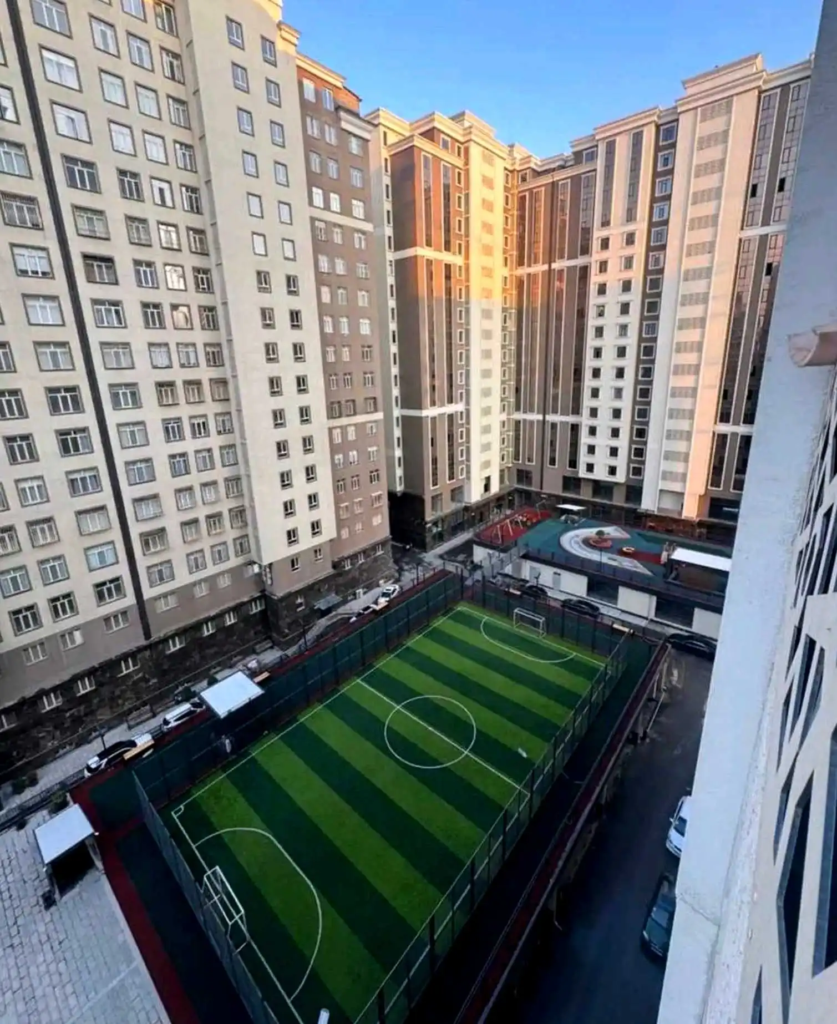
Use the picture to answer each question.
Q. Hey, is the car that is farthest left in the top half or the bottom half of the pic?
bottom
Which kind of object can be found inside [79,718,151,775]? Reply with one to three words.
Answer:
car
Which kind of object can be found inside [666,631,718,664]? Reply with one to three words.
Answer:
car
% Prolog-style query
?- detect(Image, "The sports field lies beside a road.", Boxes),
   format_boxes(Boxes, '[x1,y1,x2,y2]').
[158,599,625,1024]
